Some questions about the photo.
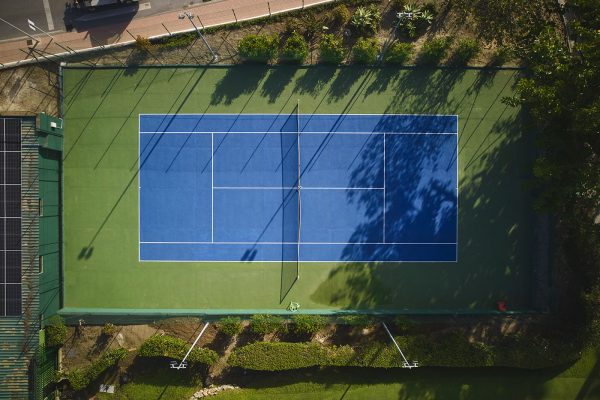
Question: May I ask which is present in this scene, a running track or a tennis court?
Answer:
tennis court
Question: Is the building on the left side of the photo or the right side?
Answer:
left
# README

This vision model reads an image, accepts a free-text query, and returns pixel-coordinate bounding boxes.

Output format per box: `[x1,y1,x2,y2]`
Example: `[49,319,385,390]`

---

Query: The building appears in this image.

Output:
[0,113,59,400]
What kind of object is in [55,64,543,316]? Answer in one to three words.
tennis court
